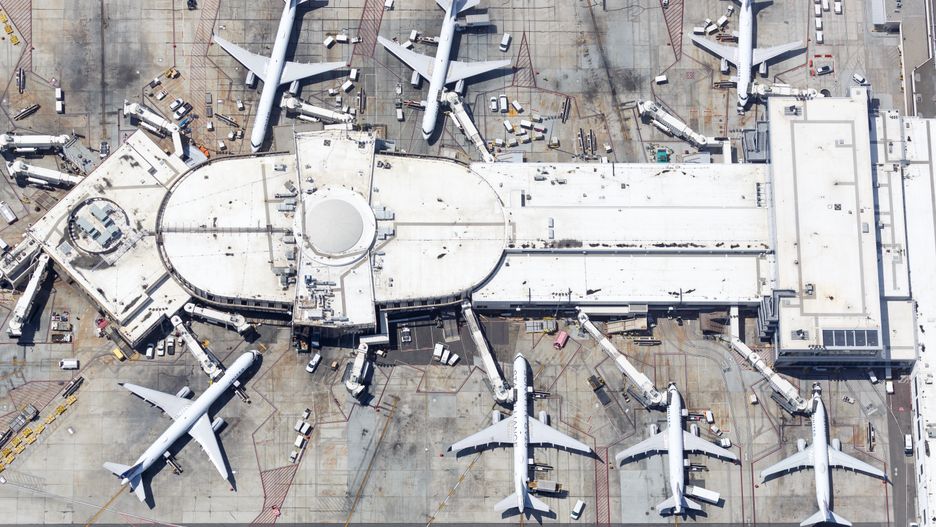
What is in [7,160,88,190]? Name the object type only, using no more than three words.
jet bridge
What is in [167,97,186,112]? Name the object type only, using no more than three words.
vehicle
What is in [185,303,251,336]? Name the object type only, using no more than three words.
jet bridge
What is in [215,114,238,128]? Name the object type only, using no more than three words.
vehicle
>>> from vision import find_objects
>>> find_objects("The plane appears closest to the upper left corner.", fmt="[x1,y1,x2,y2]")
[208,0,346,152]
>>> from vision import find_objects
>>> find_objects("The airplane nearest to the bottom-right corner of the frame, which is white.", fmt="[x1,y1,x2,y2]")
[761,388,887,527]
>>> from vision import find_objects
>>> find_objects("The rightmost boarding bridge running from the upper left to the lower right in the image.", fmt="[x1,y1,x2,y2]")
[730,337,815,412]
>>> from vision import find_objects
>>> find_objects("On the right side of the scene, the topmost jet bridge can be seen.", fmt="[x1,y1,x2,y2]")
[751,82,818,99]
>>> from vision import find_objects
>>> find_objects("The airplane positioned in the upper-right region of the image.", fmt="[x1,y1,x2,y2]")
[688,0,802,104]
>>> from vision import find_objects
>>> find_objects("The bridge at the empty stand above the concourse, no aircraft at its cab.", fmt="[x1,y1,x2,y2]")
[637,100,707,153]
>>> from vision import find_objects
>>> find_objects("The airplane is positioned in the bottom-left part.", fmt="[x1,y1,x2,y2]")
[105,353,258,500]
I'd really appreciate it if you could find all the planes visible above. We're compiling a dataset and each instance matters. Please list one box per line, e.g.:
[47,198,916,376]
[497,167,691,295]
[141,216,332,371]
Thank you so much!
[105,353,258,500]
[761,388,887,527]
[372,0,508,140]
[688,0,802,104]
[616,385,739,515]
[448,354,591,513]
[208,0,346,152]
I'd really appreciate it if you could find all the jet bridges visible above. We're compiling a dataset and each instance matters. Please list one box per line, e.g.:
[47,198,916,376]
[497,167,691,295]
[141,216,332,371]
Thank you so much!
[278,93,356,128]
[344,342,369,396]
[751,82,818,99]
[440,90,495,163]
[637,100,707,153]
[185,303,251,336]
[7,160,88,190]
[578,313,668,406]
[730,337,815,412]
[170,315,225,383]
[125,101,180,137]
[462,301,516,403]
[8,253,53,336]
